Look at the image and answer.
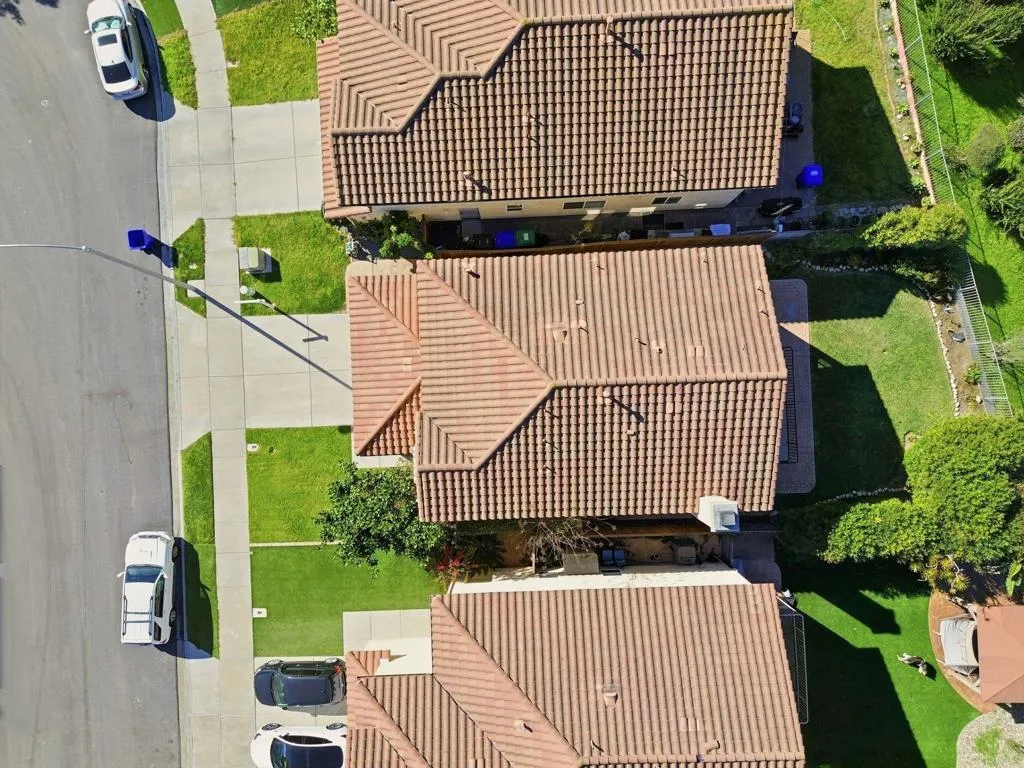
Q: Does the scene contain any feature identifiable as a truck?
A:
No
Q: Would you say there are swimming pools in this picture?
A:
No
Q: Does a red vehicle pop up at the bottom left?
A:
No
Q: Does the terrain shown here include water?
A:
No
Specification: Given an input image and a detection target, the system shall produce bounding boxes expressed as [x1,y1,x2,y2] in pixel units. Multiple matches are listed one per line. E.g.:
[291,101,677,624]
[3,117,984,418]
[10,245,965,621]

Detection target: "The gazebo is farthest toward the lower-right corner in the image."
[940,590,1024,709]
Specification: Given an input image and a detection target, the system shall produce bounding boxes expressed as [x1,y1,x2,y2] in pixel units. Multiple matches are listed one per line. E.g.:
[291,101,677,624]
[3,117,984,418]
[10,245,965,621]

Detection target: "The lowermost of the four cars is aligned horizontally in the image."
[249,723,348,768]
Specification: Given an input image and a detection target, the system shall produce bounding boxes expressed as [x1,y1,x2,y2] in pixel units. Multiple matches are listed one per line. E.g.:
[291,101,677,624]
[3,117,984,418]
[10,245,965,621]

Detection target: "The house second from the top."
[346,244,802,532]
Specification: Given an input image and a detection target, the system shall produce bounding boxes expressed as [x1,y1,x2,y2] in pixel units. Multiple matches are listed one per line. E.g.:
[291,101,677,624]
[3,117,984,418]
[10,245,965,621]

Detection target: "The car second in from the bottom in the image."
[254,659,347,712]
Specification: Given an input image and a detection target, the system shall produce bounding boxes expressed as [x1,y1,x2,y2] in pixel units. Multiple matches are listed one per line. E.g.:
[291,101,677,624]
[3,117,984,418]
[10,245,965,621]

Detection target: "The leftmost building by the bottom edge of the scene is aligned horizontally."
[344,561,808,768]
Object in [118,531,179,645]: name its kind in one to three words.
car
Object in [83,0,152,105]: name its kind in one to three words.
car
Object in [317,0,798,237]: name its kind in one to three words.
house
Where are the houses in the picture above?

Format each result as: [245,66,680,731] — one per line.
[344,561,808,768]
[346,244,802,532]
[317,0,798,237]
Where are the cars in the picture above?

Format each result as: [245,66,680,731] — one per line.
[118,531,179,645]
[83,0,152,105]
[249,723,348,768]
[254,659,347,712]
